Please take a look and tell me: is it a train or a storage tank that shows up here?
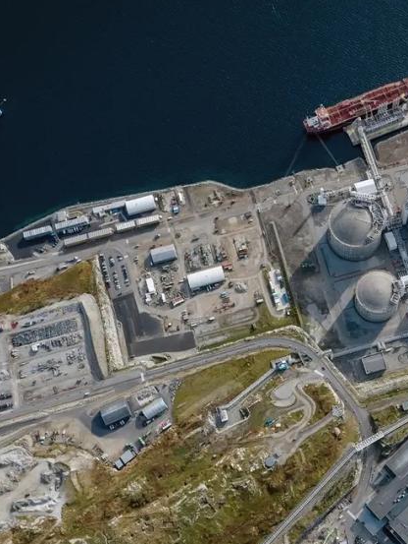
storage tank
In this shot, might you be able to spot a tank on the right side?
Yes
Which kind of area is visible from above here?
port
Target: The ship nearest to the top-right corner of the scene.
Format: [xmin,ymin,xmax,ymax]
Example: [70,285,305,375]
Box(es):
[301,79,408,136]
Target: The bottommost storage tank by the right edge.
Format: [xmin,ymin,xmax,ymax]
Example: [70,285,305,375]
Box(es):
[354,270,402,321]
